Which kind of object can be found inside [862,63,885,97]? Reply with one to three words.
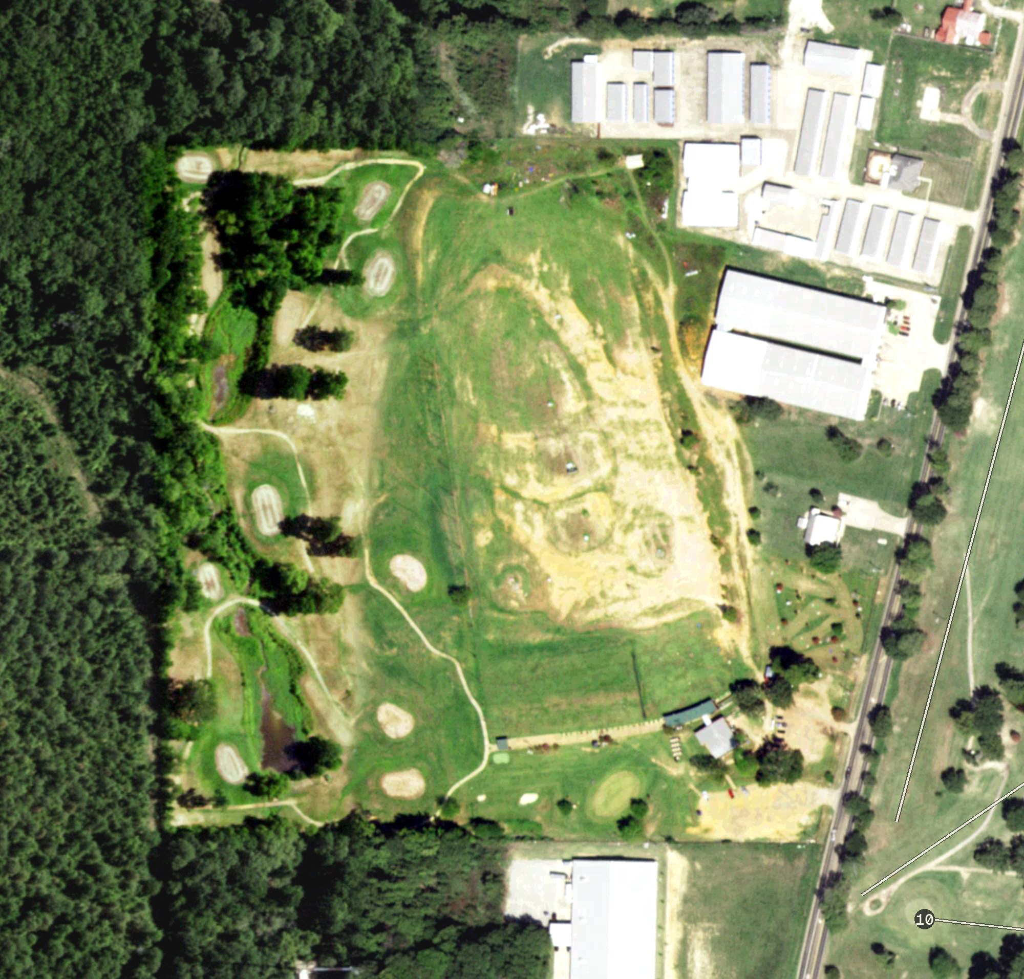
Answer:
shed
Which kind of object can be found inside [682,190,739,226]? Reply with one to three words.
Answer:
building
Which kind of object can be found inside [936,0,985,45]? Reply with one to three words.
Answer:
house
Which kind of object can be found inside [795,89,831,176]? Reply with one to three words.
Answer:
building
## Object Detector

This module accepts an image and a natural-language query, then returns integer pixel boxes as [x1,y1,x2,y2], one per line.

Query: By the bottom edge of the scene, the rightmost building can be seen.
[571,861,659,979]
